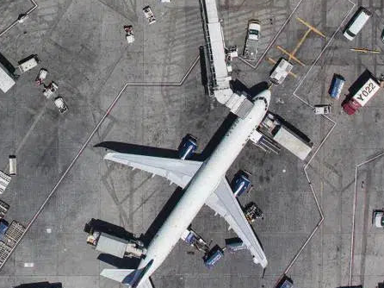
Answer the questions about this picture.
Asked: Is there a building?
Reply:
No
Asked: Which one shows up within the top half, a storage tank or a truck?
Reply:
truck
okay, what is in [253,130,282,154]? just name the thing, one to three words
work vehicle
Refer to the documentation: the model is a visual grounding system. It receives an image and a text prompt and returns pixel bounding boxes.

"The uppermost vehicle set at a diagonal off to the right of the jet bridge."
[345,4,372,39]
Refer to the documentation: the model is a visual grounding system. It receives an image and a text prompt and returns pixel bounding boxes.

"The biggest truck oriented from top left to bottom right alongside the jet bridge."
[265,114,316,158]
